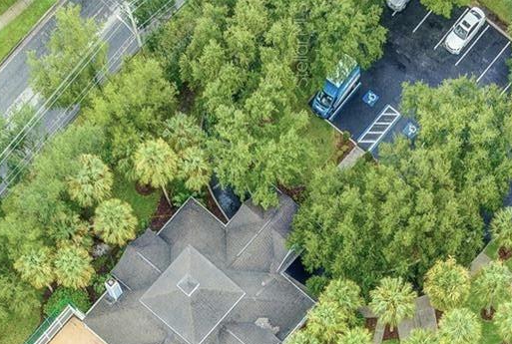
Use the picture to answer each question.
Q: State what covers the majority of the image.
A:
trees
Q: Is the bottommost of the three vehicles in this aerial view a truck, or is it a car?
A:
truck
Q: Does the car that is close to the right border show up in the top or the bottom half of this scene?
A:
top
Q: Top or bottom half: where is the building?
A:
bottom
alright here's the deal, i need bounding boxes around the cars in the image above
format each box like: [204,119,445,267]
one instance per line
[449,0,487,50]
[387,0,409,12]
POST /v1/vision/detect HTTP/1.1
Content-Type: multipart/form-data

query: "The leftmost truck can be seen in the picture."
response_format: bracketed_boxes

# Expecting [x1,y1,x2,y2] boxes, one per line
[313,51,361,126]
